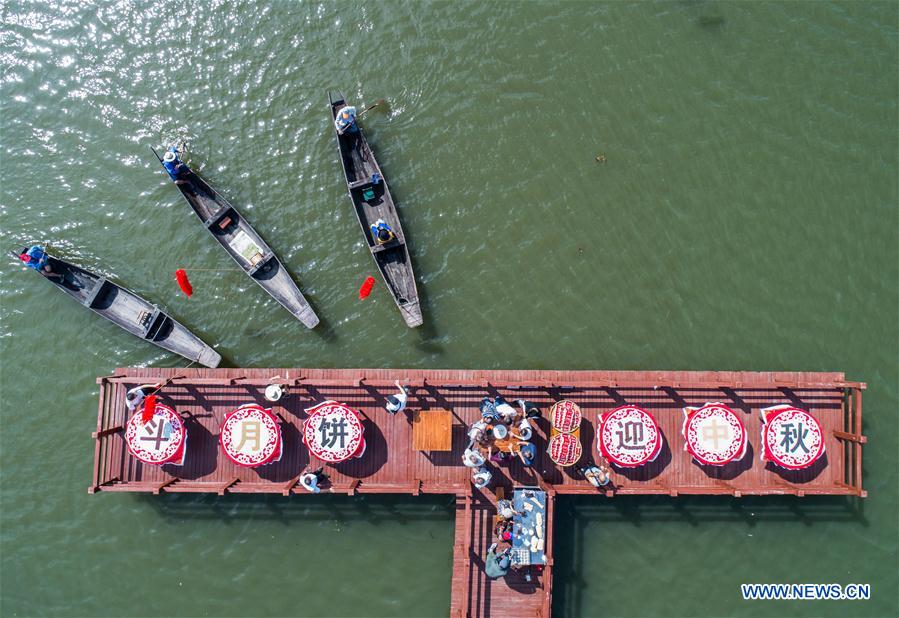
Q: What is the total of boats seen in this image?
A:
3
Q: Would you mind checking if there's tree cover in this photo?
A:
No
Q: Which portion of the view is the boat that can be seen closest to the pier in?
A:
left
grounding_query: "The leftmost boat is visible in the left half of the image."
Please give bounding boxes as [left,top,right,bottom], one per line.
[5,241,222,368]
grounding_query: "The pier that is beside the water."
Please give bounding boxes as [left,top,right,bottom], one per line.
[88,368,867,618]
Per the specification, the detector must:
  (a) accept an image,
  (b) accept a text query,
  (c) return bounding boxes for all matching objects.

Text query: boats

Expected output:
[5,241,222,368]
[146,138,321,329]
[325,86,424,328]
